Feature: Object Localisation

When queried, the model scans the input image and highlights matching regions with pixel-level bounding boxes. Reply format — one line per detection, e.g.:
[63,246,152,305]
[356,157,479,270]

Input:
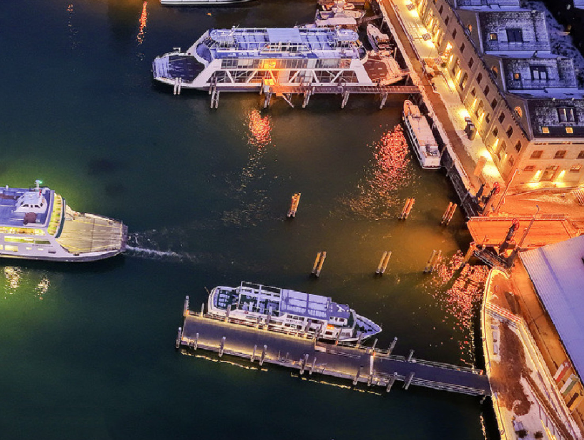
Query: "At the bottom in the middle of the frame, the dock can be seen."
[179,305,484,395]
